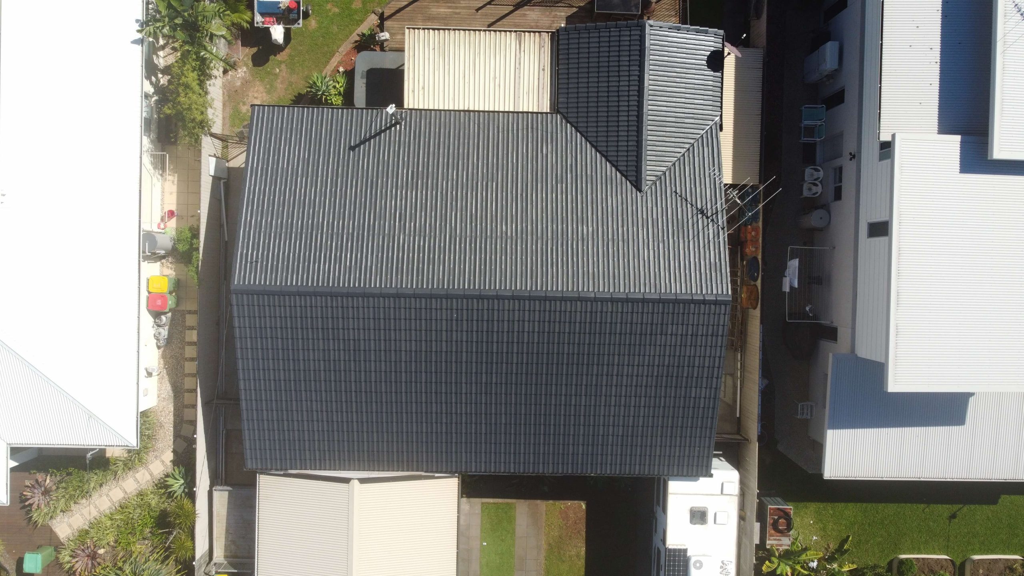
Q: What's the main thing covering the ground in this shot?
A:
buildings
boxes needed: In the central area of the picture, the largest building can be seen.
[227,19,733,478]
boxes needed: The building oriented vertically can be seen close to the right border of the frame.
[808,0,1024,483]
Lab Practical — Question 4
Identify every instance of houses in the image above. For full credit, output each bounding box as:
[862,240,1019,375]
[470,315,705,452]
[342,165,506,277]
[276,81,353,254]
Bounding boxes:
[808,0,1024,483]
[227,19,733,478]
[0,0,160,508]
